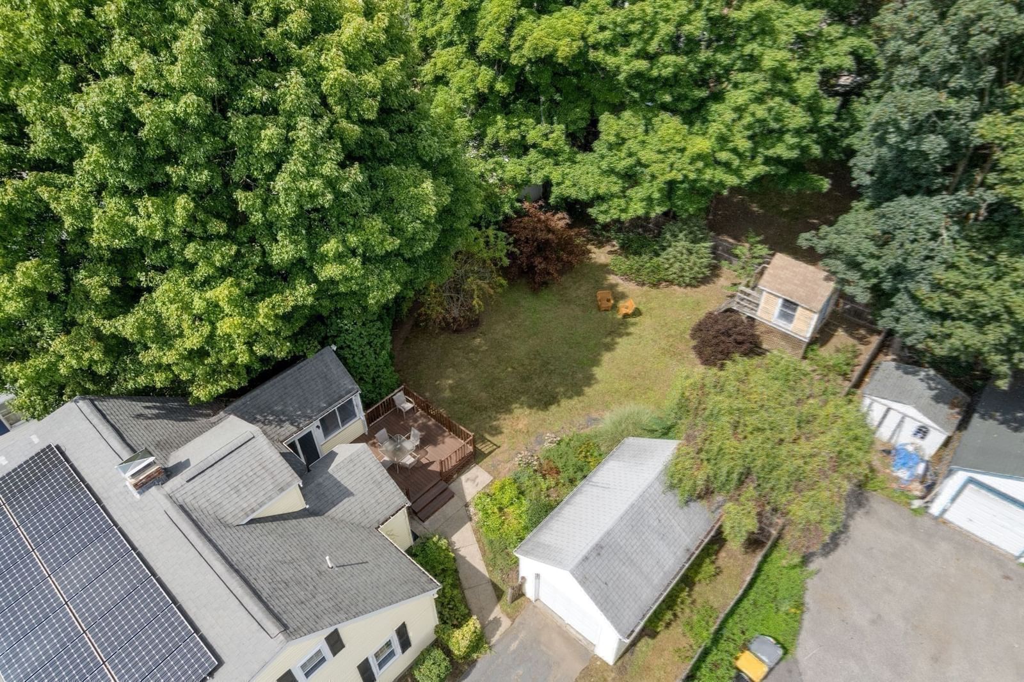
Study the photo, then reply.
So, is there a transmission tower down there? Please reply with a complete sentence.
No, there appears to be no transmission tower in this shot.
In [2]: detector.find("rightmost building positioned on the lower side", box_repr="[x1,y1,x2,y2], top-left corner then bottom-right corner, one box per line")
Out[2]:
[930,372,1024,570]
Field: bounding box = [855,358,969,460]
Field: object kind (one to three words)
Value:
shed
